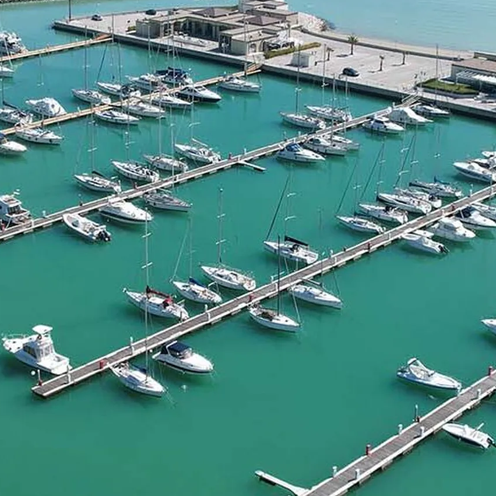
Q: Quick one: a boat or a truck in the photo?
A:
boat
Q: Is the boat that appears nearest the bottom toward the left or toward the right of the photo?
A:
right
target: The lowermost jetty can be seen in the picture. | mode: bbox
[255,470,314,496]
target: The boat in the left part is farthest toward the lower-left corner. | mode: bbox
[0,321,68,378]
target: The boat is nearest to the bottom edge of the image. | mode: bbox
[450,423,496,457]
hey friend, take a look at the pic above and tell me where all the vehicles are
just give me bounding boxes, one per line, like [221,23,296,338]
[340,63,362,74]
[141,7,160,15]
[87,11,105,20]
